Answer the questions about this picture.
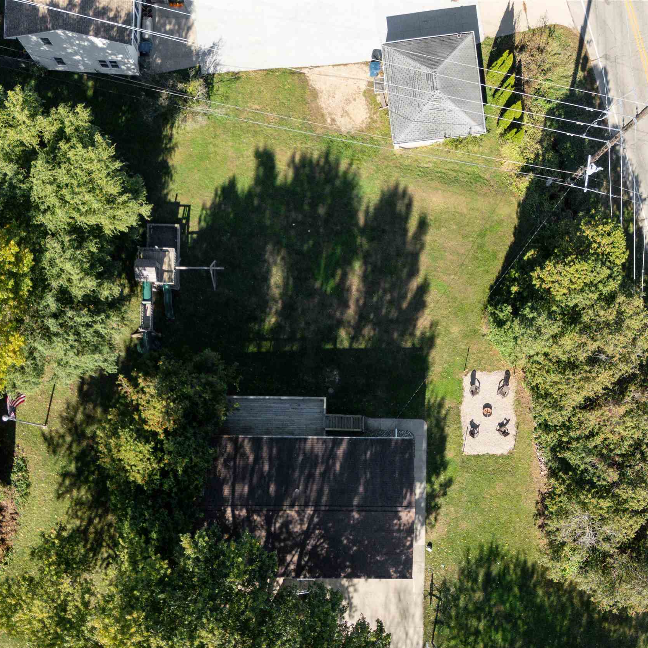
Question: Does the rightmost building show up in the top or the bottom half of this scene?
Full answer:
The rightmost building sits in the top half of the picture.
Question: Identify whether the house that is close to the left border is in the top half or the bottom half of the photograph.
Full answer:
The house that is close to the left border sits in the top half of the picture.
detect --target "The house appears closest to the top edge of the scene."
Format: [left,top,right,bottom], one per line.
[2,0,146,77]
